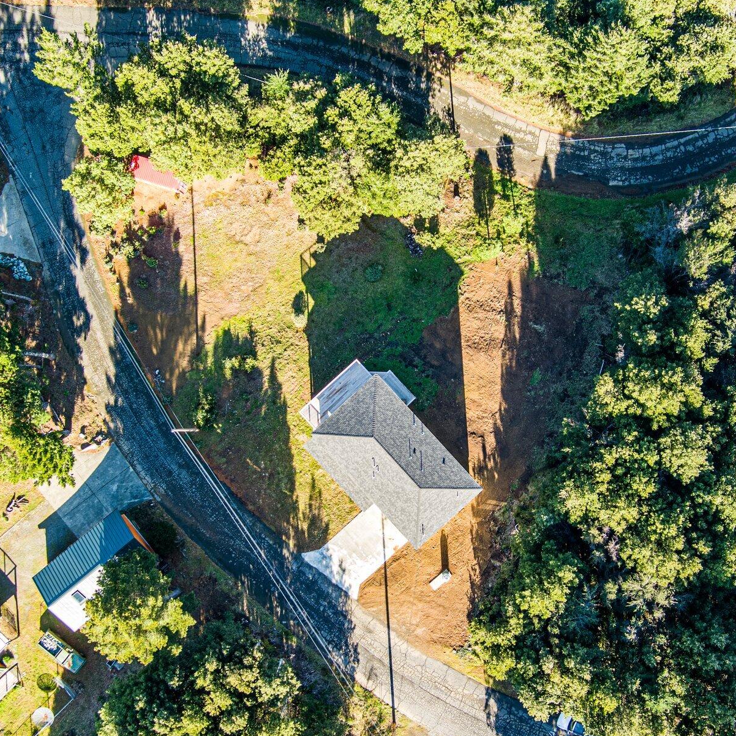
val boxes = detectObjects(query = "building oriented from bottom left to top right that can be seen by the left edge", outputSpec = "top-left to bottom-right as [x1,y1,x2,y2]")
[32,512,153,620]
